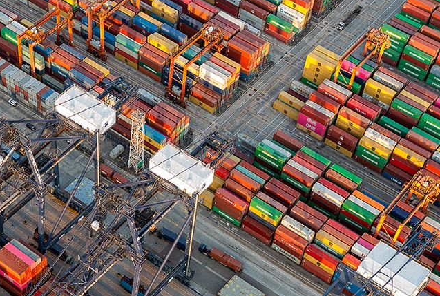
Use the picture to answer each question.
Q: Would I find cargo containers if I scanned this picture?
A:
Yes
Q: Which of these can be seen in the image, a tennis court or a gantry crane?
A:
gantry crane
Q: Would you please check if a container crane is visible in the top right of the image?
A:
Yes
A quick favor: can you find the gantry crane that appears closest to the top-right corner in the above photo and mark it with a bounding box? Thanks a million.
[326,17,394,100]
